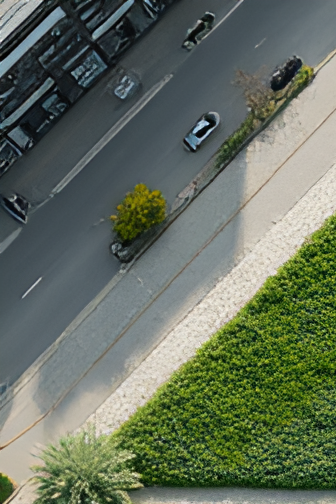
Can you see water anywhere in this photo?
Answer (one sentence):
No, no water is visible.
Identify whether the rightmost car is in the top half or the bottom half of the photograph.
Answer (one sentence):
You can find the rightmost car in the top half.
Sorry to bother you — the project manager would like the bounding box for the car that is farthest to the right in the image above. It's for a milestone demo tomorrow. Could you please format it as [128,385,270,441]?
[267,55,304,91]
